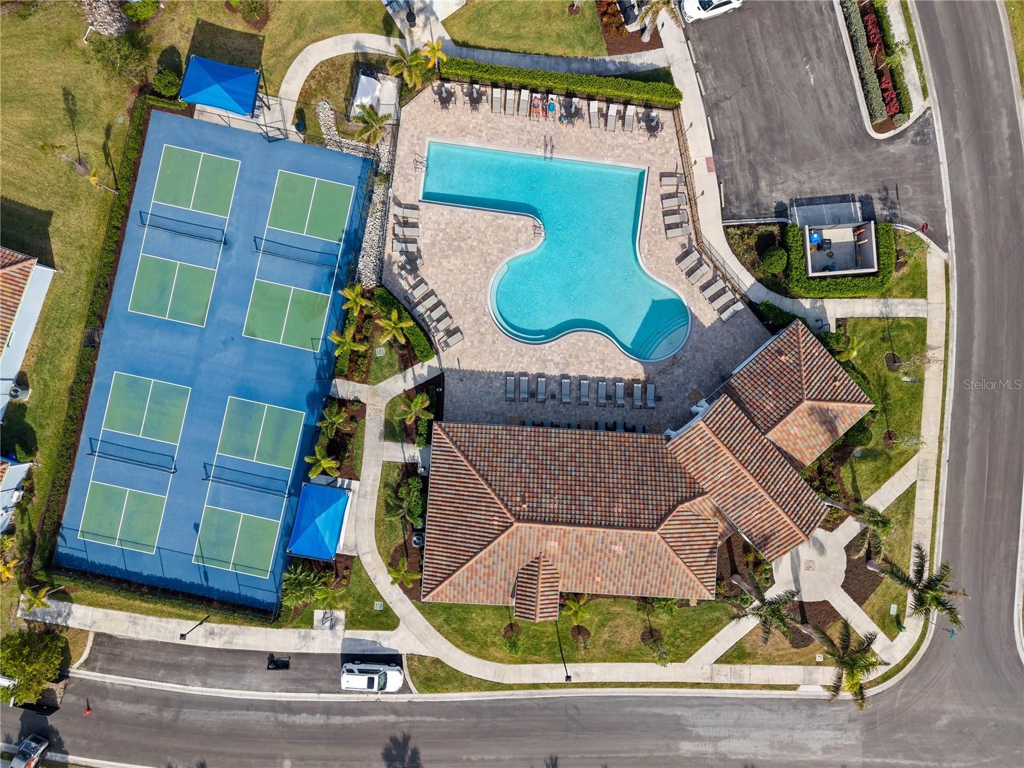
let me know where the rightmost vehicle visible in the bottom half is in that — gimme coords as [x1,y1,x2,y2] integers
[340,659,405,695]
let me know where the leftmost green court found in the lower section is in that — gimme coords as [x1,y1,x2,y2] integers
[77,371,191,554]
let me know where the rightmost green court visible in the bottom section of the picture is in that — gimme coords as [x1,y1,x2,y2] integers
[192,396,305,579]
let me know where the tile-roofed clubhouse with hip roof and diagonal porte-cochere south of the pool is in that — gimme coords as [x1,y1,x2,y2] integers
[419,318,876,622]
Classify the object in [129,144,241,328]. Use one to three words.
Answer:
sports court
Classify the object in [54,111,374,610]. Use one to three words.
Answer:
sports court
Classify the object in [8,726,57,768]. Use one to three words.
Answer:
car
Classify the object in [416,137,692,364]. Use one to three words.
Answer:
swimming pool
